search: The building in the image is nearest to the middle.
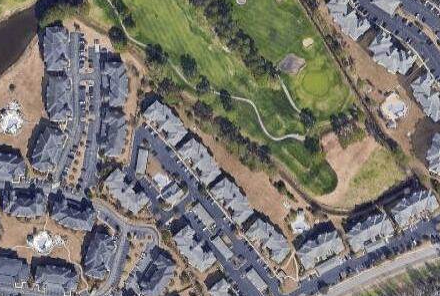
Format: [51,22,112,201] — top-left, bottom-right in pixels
[178,136,225,188]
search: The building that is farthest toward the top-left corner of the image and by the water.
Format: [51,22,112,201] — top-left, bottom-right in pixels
[43,26,70,72]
